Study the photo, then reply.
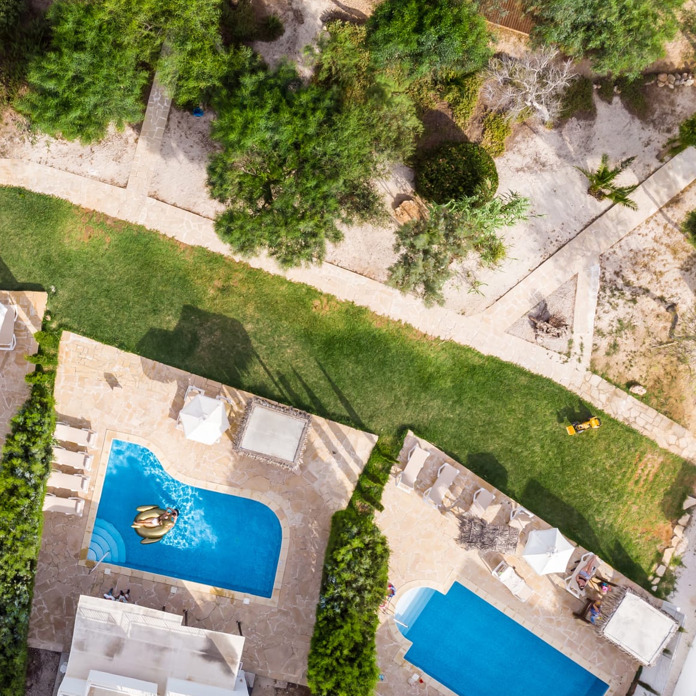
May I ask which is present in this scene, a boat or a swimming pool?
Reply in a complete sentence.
This aerial view contains a swimming pool.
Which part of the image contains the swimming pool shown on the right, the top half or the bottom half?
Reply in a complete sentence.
The swimming pool shown on the right is in the bottom half of the image.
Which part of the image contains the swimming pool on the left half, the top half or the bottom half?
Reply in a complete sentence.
Seen from above, the swimming pool on the left half lies in the bottom half of the view.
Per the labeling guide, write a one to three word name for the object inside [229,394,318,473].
gazebo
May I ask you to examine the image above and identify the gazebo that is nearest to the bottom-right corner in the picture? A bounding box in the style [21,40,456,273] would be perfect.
[574,577,683,671]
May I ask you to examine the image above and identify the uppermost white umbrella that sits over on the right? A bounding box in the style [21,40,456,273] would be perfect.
[515,525,568,575]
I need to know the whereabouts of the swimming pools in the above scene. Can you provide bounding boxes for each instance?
[387,571,620,696]
[79,431,291,608]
